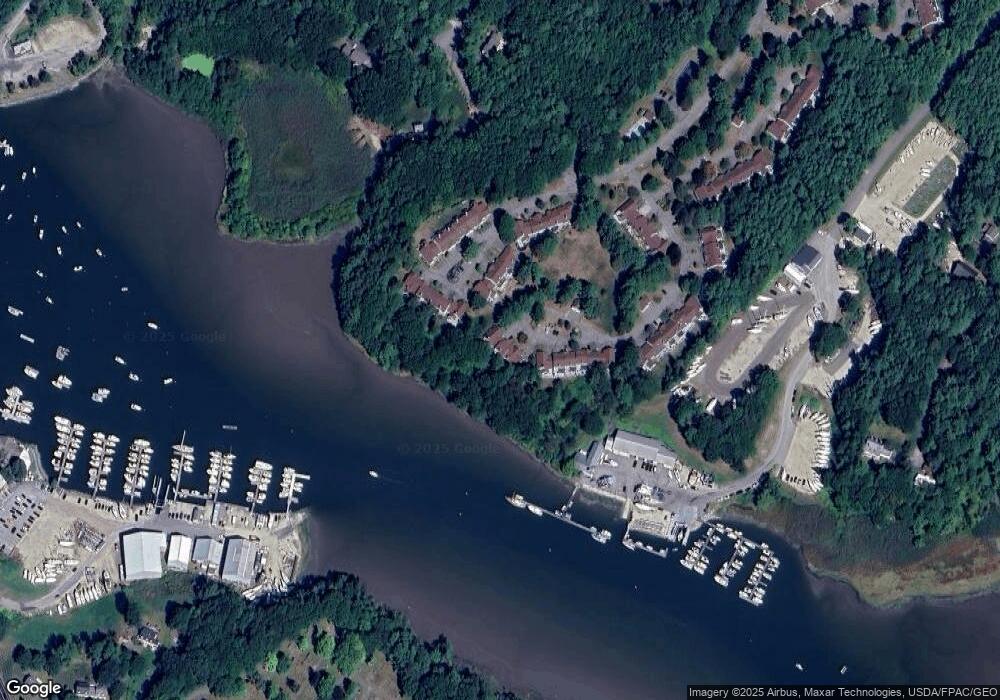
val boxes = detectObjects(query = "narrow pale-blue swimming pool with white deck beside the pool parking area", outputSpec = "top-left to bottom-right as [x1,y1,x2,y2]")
[620,116,648,139]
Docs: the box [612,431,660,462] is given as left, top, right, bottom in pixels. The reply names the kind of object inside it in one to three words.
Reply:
building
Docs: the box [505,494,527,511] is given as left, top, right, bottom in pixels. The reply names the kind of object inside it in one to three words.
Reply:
boat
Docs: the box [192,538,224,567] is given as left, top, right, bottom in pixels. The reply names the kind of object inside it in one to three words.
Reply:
shed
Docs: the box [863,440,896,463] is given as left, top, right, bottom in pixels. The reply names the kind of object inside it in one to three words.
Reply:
house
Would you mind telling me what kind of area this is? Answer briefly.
port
